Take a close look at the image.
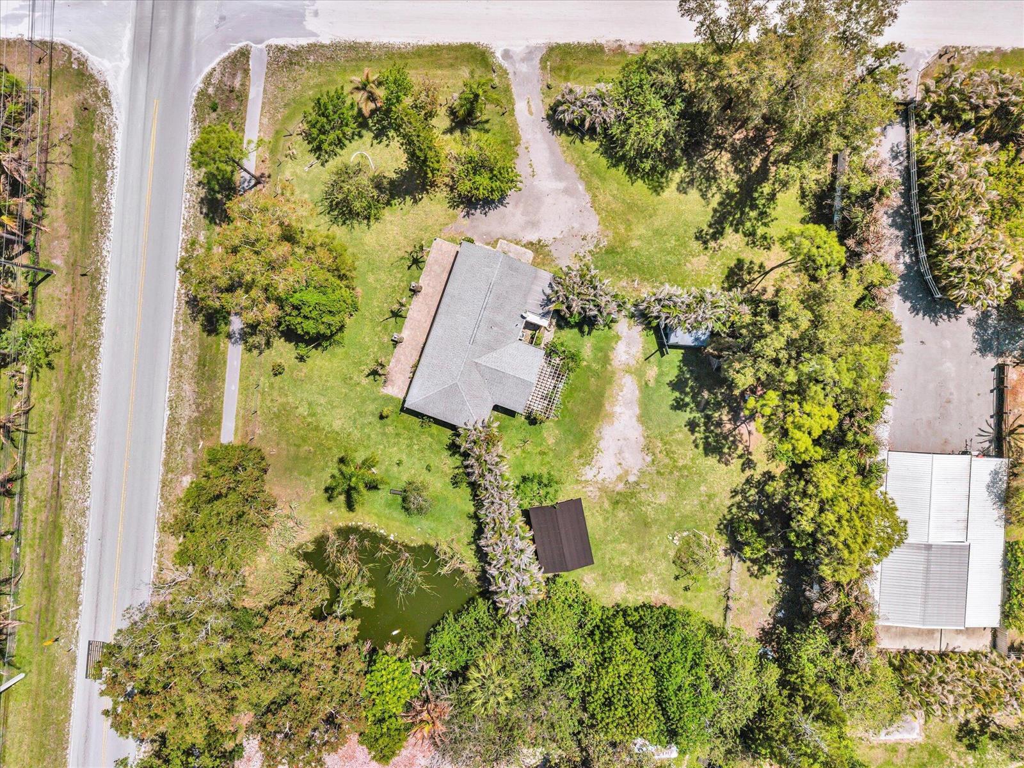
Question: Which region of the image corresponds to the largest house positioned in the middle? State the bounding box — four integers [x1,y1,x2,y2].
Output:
[404,242,552,436]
